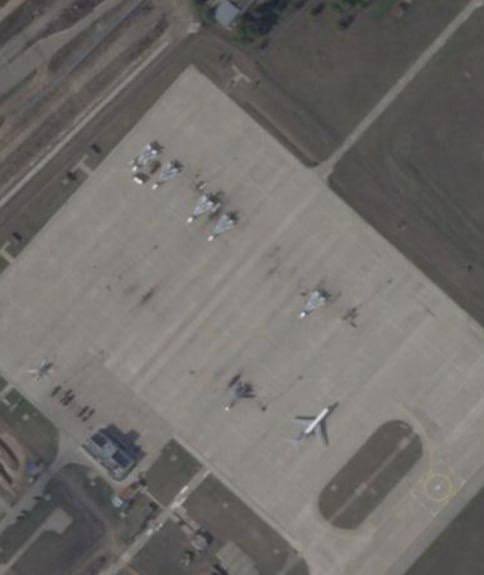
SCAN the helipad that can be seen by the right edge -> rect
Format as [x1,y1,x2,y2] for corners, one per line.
[409,457,464,515]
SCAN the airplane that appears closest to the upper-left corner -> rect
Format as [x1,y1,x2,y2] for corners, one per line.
[134,143,158,169]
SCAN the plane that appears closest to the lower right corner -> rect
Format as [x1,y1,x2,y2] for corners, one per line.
[291,407,331,446]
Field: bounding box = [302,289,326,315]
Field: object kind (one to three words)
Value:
airplane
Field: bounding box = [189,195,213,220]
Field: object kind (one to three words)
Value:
airplane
